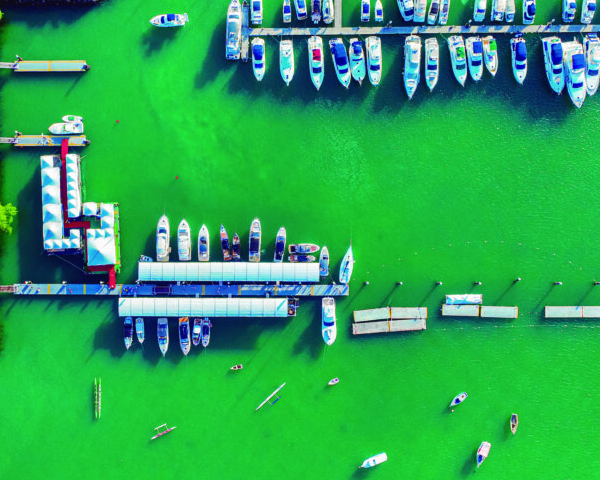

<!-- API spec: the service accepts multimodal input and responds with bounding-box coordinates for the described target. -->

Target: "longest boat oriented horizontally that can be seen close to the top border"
[149,13,189,26]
